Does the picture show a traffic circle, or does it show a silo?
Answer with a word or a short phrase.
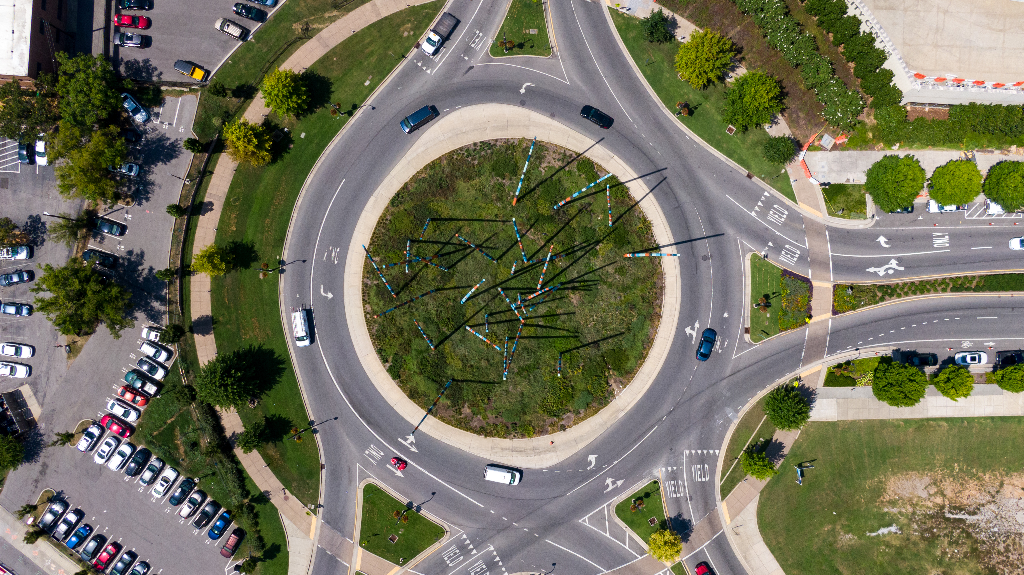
traffic circle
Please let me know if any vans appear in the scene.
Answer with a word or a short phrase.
Yes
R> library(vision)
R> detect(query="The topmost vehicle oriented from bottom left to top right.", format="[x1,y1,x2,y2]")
[423,9,460,54]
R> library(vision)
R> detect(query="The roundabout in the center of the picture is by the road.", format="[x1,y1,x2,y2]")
[344,103,681,469]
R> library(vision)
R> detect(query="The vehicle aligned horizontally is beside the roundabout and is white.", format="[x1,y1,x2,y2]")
[483,465,521,484]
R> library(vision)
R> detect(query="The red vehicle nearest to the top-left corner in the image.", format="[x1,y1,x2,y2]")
[116,14,149,29]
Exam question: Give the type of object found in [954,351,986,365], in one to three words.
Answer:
car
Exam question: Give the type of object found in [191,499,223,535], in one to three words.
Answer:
truck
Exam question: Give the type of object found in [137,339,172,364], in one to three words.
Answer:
car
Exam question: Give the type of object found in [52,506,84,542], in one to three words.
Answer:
truck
